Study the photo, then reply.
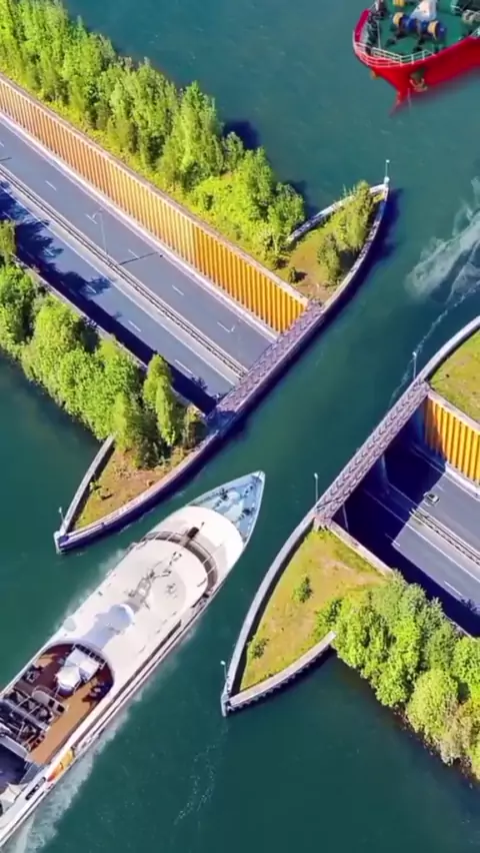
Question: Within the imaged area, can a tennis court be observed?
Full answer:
No, there is no tennis court in the image.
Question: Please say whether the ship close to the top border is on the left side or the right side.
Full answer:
The ship close to the top border appears in the right half of the scene.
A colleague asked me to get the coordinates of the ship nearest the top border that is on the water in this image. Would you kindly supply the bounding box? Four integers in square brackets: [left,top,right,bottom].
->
[348,0,480,93]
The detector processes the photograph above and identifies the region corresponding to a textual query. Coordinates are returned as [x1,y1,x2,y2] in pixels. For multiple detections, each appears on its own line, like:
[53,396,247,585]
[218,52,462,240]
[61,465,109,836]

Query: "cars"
[423,489,442,505]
